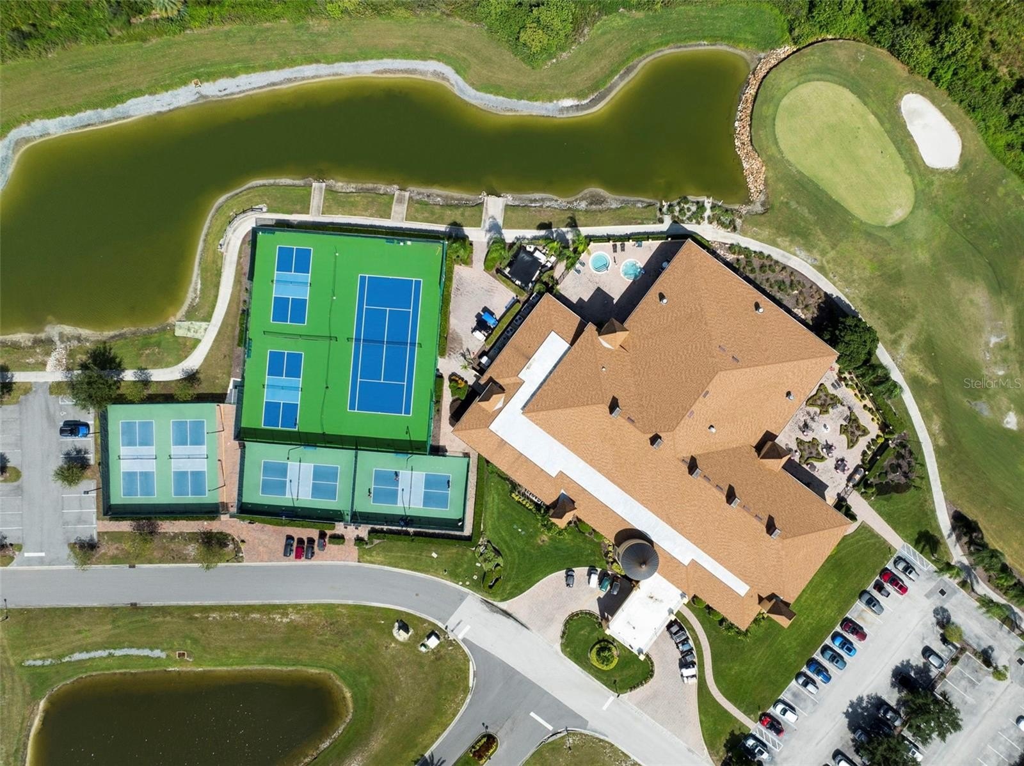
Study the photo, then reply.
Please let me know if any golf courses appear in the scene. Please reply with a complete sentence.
Yes, you can see a golf course in this photo.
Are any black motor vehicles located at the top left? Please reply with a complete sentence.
No, no black motor vehicle is visible at the top left.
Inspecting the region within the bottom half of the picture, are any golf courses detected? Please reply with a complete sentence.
No, looking within the bottom half of the picture, there is no golf course.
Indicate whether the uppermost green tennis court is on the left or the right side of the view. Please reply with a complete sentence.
It is on the left.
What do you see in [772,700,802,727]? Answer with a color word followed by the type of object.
white car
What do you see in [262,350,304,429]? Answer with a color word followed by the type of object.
blue sports court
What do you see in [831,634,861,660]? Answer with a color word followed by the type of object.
blue car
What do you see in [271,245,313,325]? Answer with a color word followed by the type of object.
blue sports court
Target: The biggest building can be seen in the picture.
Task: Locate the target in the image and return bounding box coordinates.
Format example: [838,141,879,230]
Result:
[452,239,853,653]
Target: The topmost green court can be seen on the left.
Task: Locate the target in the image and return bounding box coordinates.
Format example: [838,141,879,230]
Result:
[240,230,446,455]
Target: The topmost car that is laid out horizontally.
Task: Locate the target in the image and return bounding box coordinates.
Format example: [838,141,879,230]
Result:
[57,423,89,437]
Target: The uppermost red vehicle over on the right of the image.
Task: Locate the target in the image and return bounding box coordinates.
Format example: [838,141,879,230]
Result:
[882,572,912,598]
